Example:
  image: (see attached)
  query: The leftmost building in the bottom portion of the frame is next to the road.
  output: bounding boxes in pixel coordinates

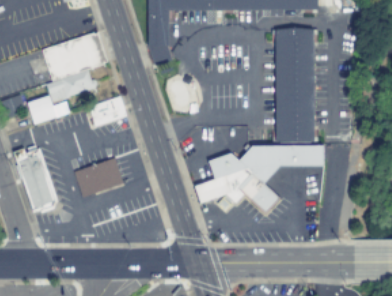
[14,147,58,212]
